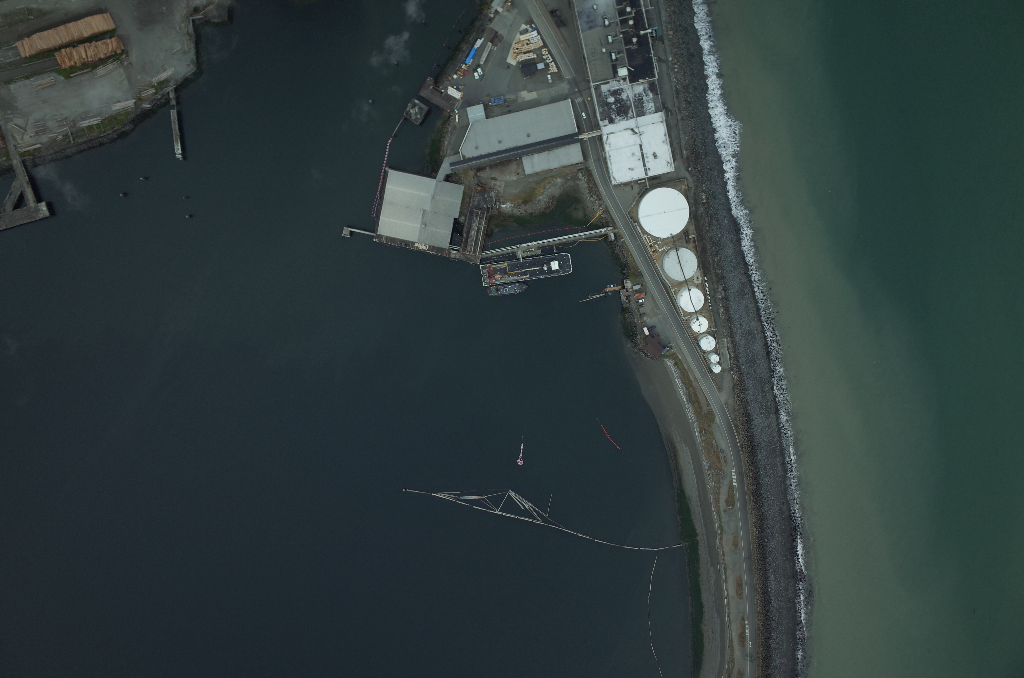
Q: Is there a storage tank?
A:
Yes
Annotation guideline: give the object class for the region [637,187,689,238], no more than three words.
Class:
storage tank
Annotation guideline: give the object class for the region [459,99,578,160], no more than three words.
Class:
building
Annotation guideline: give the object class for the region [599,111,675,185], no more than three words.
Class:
building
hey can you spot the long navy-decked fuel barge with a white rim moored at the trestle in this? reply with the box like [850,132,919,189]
[480,253,573,286]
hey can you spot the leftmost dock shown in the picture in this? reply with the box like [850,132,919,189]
[0,144,55,231]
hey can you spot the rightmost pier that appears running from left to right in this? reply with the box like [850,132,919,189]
[481,225,618,258]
